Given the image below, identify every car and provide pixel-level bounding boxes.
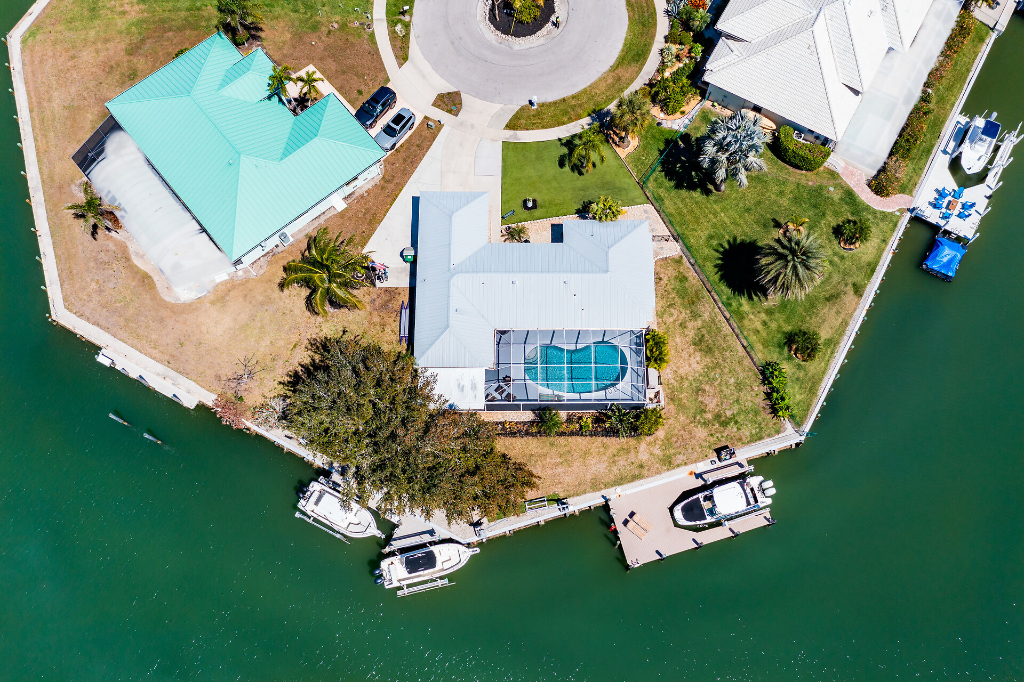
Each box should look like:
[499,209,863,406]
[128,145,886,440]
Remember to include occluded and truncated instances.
[355,86,398,131]
[374,108,416,153]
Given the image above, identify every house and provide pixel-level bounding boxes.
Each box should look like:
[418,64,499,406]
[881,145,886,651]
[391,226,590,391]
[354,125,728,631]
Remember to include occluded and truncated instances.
[413,190,656,417]
[704,0,935,149]
[105,30,387,282]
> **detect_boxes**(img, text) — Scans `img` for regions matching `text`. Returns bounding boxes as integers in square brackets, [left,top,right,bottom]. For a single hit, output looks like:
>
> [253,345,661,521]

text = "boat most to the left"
[292,481,385,534]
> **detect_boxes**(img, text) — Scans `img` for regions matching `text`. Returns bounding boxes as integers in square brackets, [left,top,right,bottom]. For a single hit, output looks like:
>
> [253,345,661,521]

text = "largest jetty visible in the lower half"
[609,457,771,565]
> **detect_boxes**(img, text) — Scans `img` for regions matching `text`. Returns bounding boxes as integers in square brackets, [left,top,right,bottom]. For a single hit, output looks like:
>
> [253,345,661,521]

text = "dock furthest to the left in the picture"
[101,349,200,409]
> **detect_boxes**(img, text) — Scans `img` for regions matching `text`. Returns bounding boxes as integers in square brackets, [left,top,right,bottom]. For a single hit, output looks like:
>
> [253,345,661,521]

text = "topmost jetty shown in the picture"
[993,0,1015,36]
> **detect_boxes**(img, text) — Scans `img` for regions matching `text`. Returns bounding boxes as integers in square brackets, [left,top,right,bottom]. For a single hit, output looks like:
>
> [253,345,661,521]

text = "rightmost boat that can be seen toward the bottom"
[673,478,774,521]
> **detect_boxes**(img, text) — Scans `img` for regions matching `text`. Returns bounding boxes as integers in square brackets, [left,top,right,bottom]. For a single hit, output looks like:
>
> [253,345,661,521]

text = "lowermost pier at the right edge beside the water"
[912,114,1017,240]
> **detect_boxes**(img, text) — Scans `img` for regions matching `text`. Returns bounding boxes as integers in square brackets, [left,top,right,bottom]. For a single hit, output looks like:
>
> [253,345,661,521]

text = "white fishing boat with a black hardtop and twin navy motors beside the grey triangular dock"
[371,544,479,592]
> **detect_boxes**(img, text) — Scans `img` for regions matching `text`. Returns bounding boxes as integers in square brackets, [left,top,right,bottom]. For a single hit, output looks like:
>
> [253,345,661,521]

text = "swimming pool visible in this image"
[520,337,632,397]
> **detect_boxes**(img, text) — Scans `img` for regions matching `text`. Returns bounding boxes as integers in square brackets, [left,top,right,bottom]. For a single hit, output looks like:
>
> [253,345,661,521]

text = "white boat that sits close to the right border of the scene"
[961,110,1003,175]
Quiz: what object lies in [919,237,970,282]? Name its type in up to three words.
boat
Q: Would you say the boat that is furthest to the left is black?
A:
No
